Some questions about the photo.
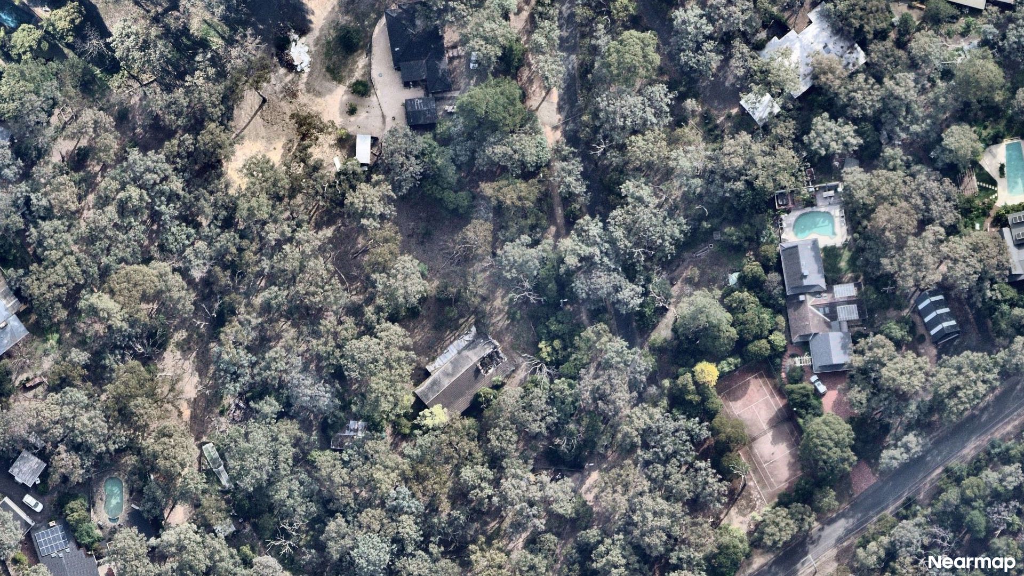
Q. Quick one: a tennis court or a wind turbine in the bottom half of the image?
tennis court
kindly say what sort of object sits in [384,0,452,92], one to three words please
house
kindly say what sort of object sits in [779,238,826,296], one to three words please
building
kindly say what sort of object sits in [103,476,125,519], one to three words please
swimming pool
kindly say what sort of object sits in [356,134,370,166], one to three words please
shed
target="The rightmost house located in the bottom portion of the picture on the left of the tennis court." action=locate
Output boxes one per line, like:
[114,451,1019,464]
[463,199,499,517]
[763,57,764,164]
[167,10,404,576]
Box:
[416,326,516,415]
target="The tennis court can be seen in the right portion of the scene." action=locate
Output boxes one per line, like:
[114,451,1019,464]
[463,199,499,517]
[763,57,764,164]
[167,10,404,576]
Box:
[705,359,829,508]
